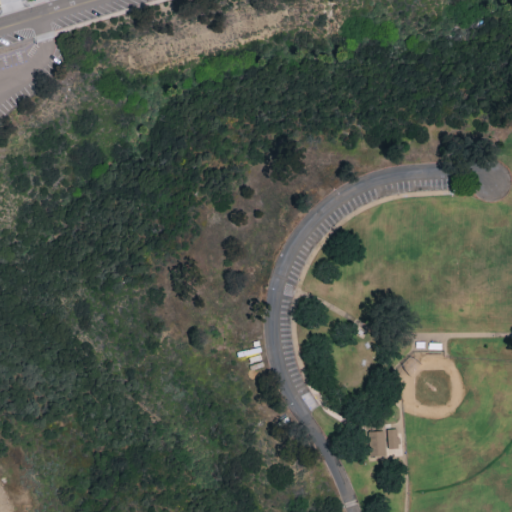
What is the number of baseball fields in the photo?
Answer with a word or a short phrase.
one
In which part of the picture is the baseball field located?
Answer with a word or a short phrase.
bottom right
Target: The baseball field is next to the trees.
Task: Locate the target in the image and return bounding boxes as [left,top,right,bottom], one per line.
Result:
[400,352,465,419]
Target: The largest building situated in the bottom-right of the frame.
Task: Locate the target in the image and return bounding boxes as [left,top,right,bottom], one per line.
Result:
[370,431,386,458]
